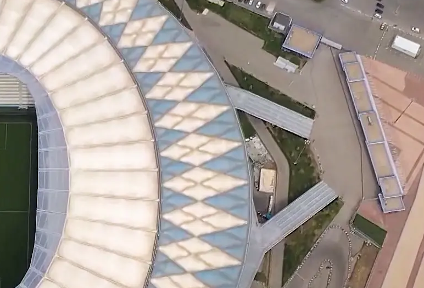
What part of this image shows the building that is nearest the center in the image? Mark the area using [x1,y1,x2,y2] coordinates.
[258,168,276,196]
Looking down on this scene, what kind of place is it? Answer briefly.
sports ground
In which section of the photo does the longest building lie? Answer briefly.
right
